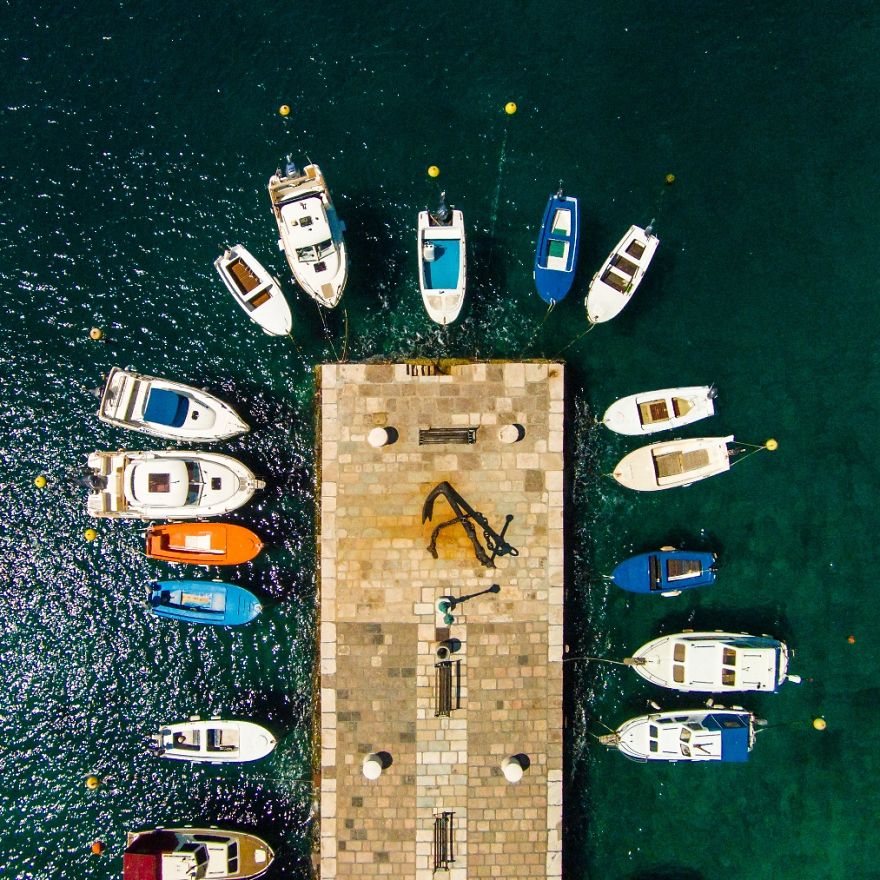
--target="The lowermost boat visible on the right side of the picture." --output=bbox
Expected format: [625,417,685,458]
[565,700,814,765]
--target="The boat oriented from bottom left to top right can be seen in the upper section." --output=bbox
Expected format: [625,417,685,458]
[558,217,663,361]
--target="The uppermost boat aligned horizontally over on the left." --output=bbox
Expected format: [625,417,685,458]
[88,368,250,442]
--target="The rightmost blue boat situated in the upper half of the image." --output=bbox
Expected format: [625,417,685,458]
[528,183,580,361]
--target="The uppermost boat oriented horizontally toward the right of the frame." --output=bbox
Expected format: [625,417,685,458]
[563,384,730,435]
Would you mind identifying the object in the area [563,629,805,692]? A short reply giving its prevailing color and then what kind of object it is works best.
white boat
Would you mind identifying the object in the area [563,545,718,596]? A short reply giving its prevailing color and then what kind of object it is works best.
blue boat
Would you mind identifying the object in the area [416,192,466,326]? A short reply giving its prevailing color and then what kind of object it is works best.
white boat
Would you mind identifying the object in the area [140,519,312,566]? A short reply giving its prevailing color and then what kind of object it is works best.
orange boat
